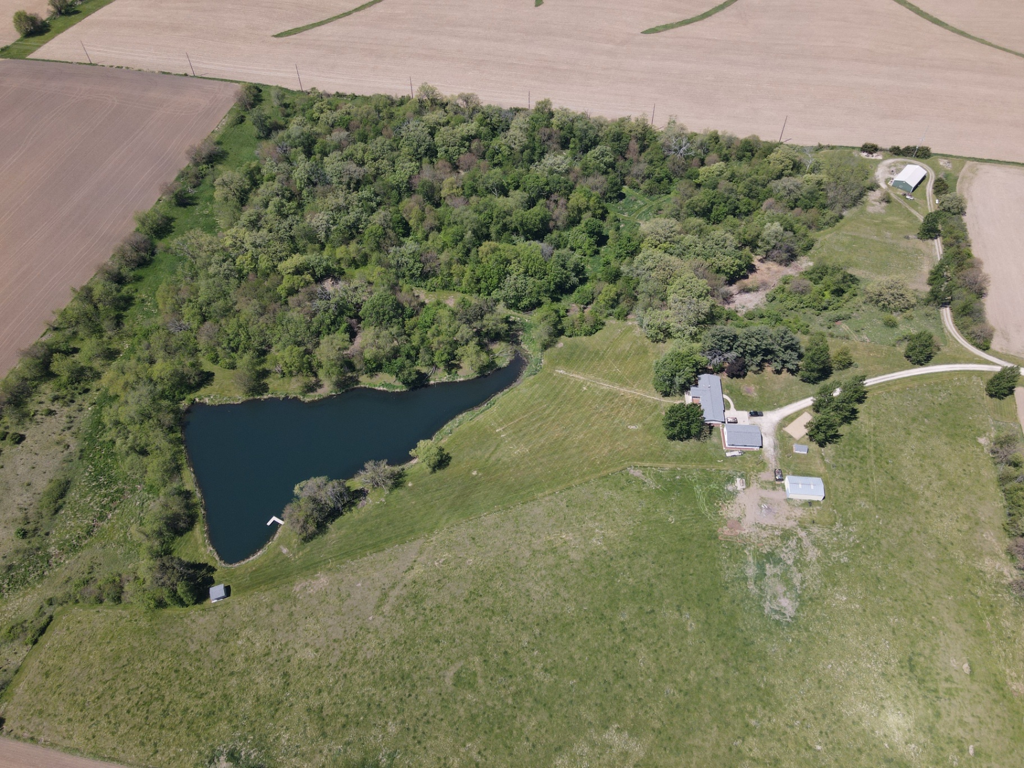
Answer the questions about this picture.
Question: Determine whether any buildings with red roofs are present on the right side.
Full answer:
No, no building with a red roof can be made out on the right side.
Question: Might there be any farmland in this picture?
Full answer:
Yes, some farmland is visible.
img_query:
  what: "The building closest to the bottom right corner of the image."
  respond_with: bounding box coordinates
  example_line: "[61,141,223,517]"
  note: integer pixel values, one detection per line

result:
[784,476,825,501]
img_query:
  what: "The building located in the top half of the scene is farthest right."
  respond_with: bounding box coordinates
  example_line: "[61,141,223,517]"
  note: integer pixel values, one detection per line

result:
[891,165,927,194]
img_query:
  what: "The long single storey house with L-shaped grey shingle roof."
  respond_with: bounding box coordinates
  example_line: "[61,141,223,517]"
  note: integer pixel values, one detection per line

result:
[689,374,727,426]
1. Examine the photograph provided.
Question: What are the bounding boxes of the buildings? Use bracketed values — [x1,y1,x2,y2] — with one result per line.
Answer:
[891,165,927,194]
[790,444,808,455]
[209,585,227,604]
[784,476,825,501]
[689,374,727,426]
[724,424,763,450]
